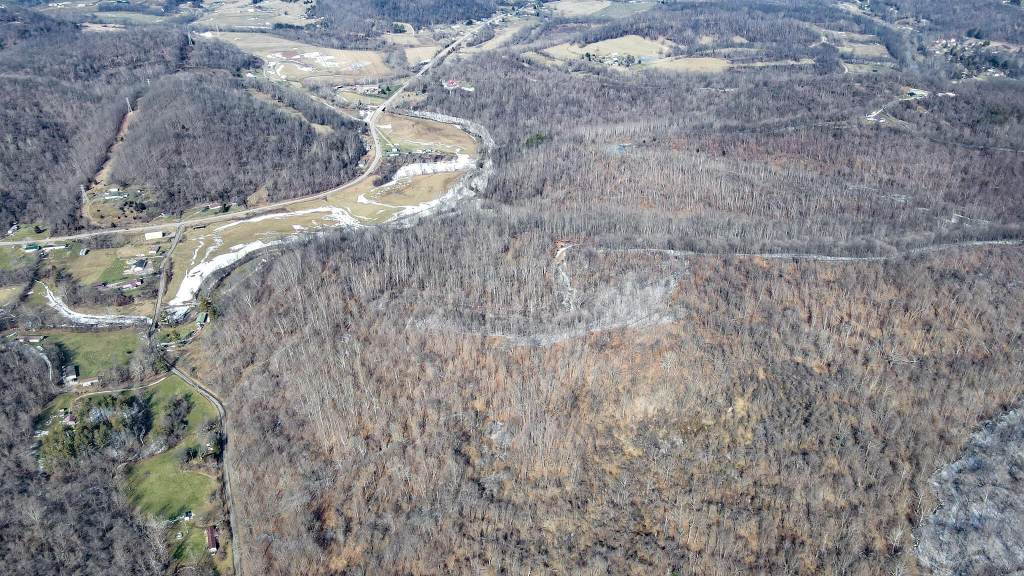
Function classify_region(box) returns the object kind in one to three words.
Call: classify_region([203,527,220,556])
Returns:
house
